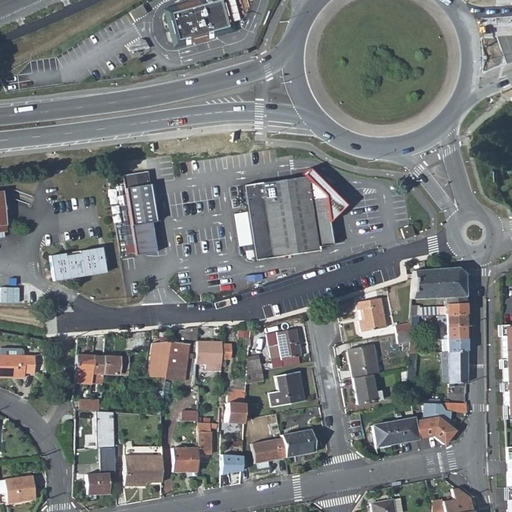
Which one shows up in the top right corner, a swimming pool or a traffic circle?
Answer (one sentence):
The one visible in the top right corner is a traffic circle.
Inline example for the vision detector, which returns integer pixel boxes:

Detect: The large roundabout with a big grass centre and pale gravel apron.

[282,0,482,159]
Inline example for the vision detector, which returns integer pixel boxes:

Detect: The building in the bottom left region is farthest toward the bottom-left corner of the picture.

[5,474,36,504]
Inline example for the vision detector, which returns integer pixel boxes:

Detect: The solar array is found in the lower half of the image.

[276,334,290,358]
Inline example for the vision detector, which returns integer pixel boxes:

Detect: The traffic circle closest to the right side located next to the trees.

[446,204,502,260]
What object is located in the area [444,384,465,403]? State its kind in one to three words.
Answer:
building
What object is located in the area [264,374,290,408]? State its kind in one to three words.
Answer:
house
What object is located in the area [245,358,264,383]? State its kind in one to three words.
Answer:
shed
